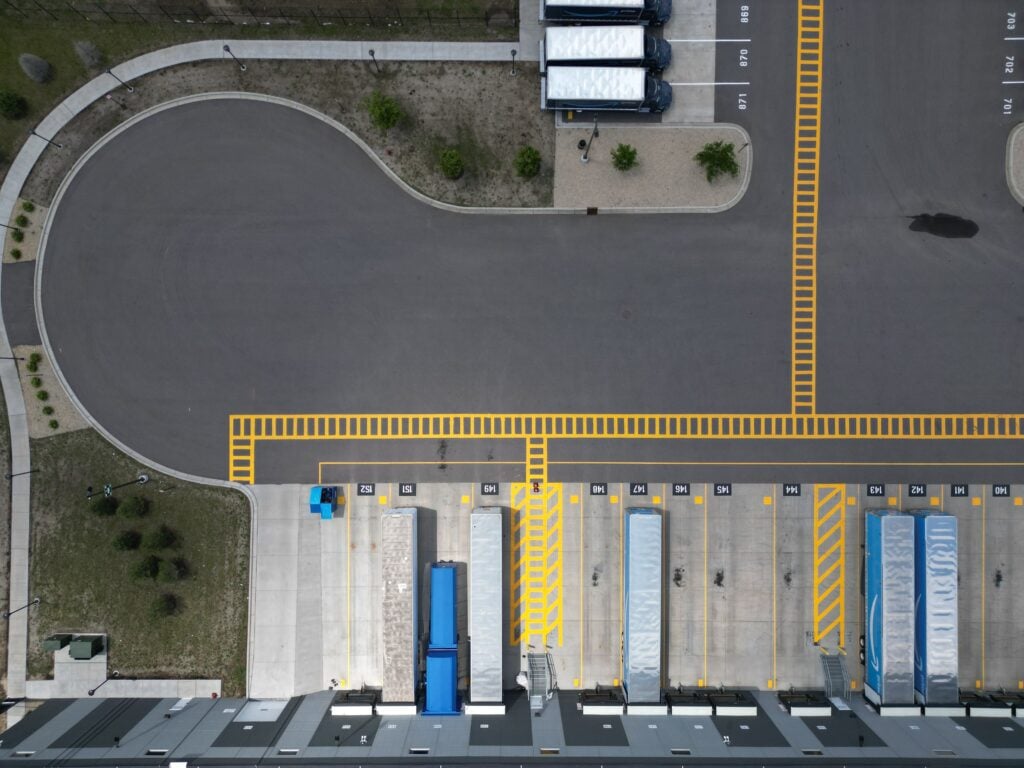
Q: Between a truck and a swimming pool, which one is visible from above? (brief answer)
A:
truck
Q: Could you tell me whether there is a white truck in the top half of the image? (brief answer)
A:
Yes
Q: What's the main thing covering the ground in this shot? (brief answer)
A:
paved ground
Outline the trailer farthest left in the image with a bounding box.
[381,507,419,704]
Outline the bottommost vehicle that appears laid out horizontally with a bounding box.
[539,68,672,115]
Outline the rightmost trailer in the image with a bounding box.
[905,507,957,705]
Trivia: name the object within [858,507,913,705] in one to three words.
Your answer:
trailer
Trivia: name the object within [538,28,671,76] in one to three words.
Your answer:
truck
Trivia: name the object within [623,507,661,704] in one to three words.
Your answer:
trailer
